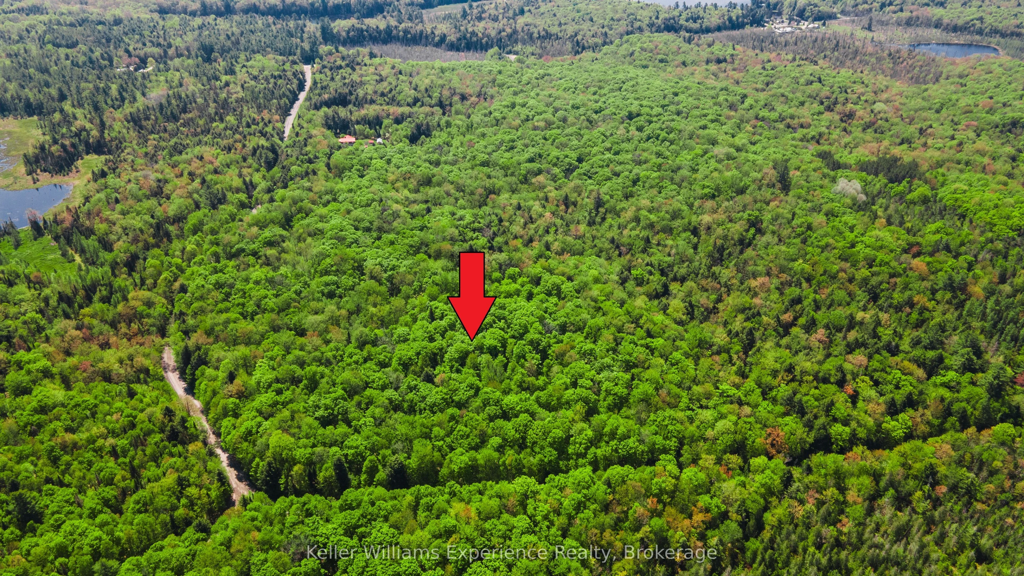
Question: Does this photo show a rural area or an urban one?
rural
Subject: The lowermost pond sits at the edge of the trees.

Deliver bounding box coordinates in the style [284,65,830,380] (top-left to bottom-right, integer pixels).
[0,184,73,234]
